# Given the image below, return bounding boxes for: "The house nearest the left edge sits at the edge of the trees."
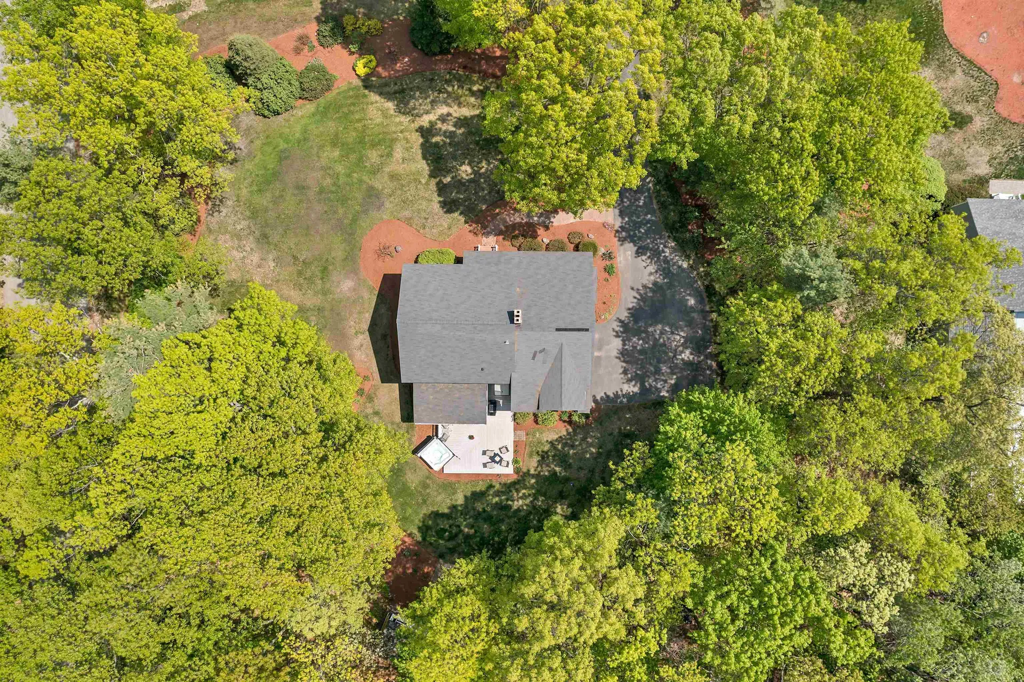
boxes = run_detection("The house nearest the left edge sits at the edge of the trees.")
[395,251,597,426]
